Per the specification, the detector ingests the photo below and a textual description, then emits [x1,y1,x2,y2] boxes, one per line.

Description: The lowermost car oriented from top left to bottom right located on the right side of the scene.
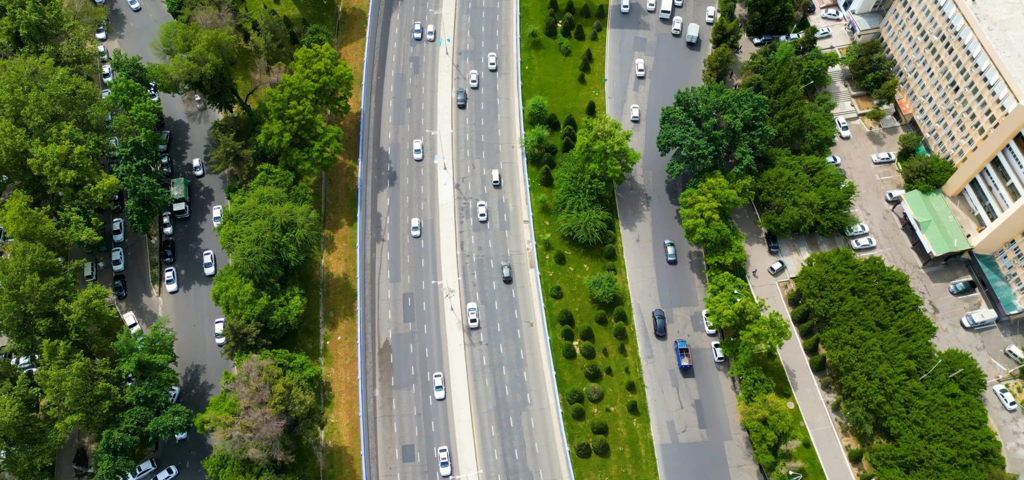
[991,383,1019,413]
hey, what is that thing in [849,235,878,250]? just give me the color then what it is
white car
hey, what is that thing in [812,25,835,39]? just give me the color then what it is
white car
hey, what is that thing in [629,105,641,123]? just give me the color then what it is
white vehicle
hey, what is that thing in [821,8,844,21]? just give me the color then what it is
white vehicle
